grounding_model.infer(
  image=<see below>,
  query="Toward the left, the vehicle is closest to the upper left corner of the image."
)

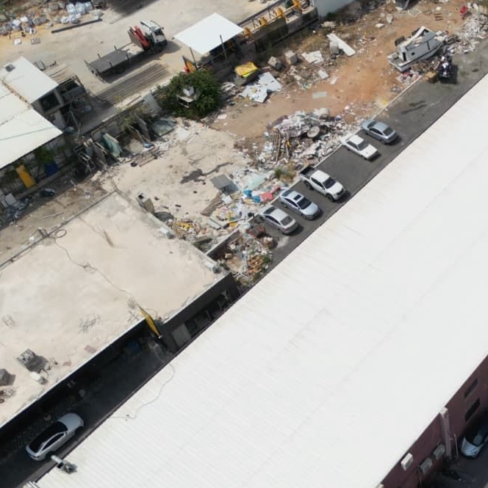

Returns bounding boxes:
[85,21,171,73]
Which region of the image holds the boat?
top right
